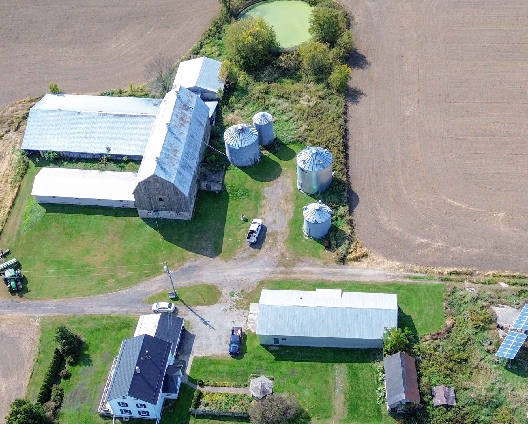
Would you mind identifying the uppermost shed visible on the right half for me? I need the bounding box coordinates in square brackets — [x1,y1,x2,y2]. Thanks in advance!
[258,289,397,349]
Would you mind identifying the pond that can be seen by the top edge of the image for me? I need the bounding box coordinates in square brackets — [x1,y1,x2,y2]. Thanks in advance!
[243,1,314,47]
